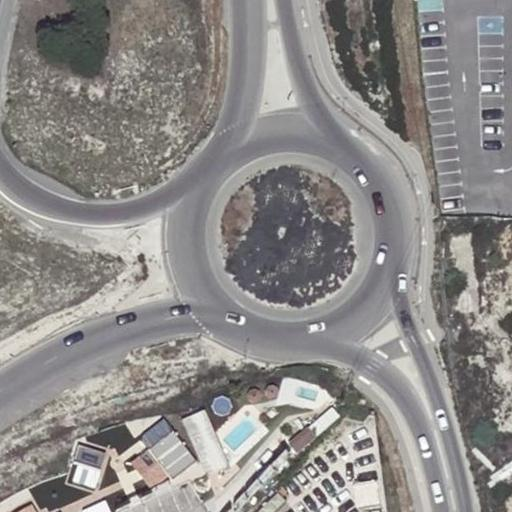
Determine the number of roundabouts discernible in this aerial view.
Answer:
1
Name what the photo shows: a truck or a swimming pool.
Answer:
swimming pool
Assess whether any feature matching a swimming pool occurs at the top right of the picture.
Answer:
No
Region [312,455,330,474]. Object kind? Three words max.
car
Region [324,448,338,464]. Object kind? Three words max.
car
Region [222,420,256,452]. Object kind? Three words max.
swimming pool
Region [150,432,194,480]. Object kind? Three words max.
building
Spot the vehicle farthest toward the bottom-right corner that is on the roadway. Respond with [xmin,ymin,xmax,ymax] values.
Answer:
[432,481,444,503]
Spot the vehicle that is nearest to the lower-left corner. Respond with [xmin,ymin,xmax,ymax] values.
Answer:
[63,331,85,346]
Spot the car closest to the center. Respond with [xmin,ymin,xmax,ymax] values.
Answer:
[224,312,246,324]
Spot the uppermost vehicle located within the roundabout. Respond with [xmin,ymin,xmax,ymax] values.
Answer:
[352,166,370,189]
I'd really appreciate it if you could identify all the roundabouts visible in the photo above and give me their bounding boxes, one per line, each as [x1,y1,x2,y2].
[164,111,416,363]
